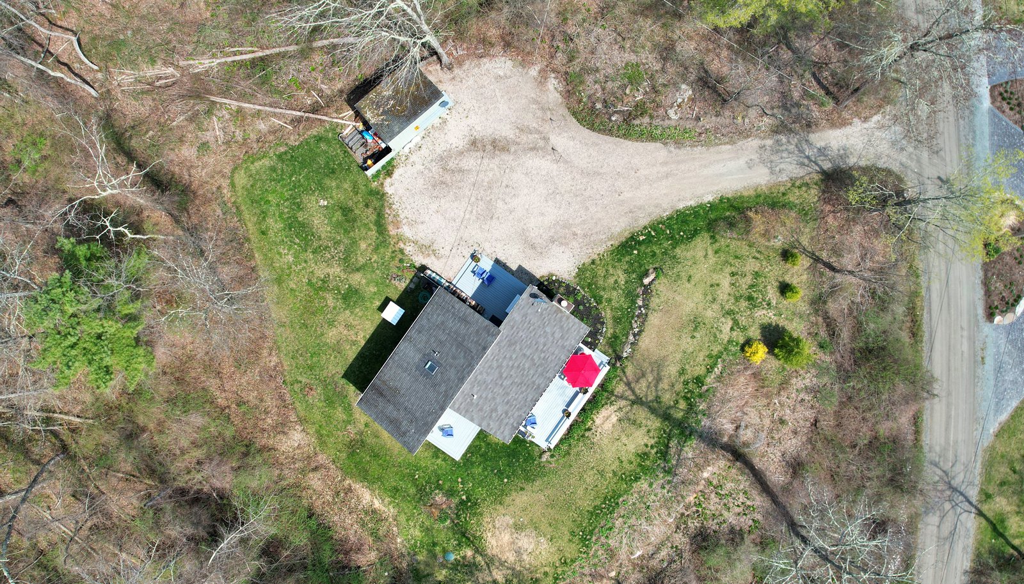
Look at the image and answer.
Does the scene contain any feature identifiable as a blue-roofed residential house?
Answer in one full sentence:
No, there is no blue-roofed residential house in the image.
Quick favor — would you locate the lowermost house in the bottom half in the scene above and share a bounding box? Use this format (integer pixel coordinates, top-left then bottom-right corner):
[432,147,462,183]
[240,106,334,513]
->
[355,284,591,453]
